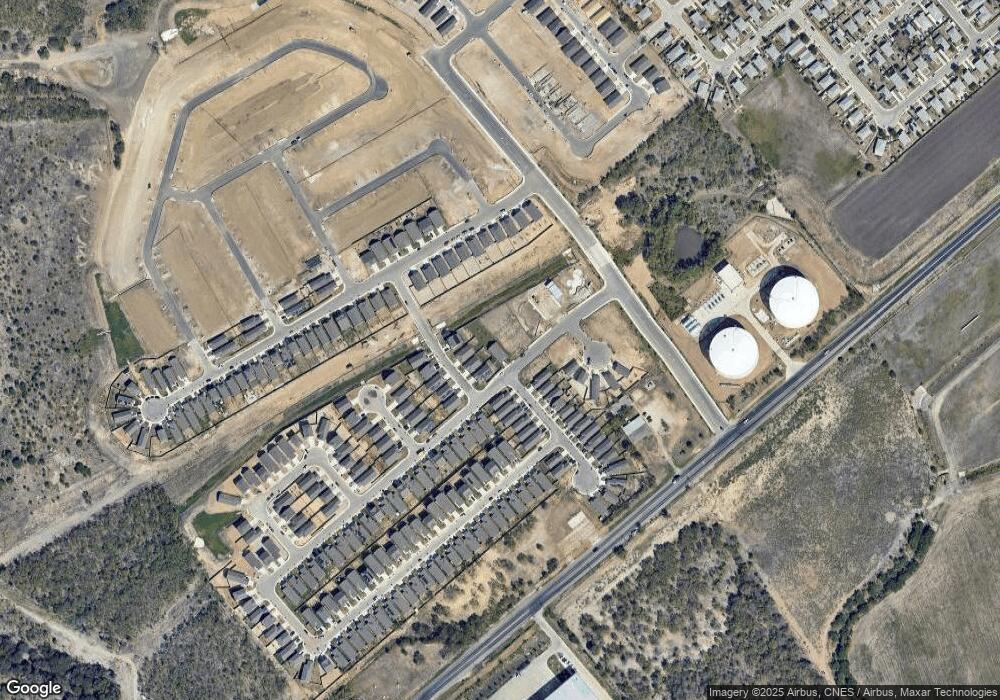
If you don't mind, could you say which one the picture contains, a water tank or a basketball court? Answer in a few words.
water tank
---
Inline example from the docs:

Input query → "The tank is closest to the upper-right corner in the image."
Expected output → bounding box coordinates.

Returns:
[770,273,820,324]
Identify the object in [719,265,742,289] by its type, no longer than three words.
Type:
building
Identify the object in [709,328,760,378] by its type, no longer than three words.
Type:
water tank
